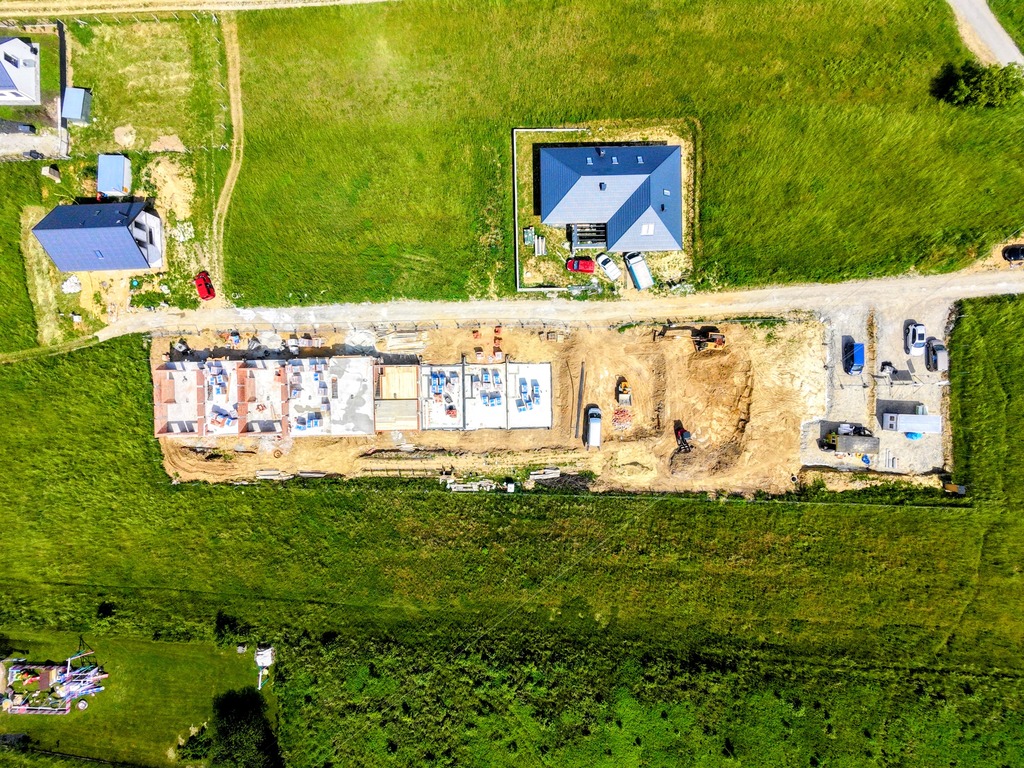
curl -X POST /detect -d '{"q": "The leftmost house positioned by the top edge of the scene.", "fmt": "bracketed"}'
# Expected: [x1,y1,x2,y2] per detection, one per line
[0,38,38,104]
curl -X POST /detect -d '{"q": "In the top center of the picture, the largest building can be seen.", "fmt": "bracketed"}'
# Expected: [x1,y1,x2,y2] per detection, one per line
[540,145,683,253]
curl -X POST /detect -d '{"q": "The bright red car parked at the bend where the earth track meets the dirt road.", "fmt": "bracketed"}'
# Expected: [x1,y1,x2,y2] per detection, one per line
[197,271,218,301]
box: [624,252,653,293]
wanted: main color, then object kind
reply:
white van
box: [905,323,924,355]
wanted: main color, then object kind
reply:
white car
